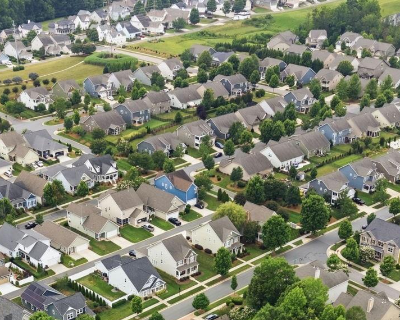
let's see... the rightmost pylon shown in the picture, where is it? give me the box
[104,4,118,57]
